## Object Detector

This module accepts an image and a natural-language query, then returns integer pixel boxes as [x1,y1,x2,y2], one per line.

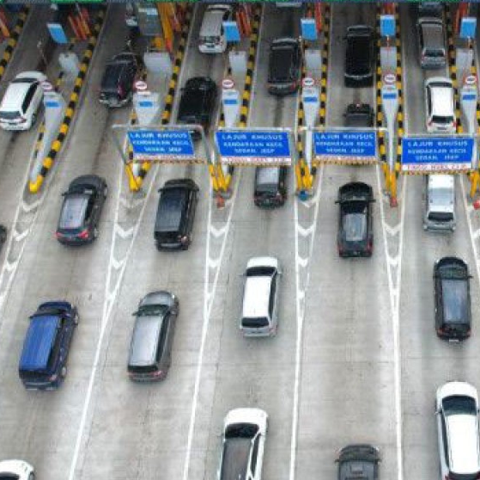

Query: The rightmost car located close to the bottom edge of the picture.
[435,381,480,480]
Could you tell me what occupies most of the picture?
paved ground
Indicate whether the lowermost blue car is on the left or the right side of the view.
left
